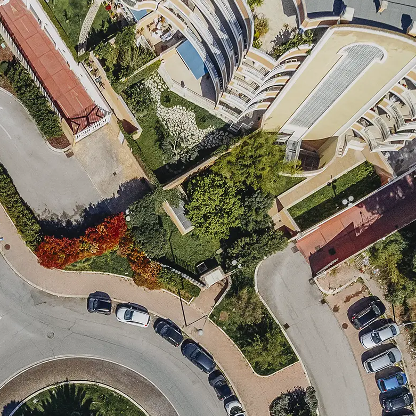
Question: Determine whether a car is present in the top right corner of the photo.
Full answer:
No, I see no car in the top right corner of the photo.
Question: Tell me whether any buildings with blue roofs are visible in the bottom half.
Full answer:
No, no building with a blue roof appears in the bottom half.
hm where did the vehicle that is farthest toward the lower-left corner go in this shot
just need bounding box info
[87,296,111,313]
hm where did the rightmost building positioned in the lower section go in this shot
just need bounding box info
[197,262,228,290]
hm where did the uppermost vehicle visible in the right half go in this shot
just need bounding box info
[347,301,387,329]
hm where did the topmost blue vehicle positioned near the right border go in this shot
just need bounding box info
[373,370,409,392]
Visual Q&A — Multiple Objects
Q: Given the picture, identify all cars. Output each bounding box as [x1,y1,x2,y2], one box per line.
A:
[179,341,217,374]
[378,391,414,411]
[224,399,245,416]
[373,370,409,392]
[87,296,111,313]
[113,305,152,328]
[151,319,187,349]
[208,367,235,401]
[360,346,402,374]
[357,321,400,350]
[347,301,387,329]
